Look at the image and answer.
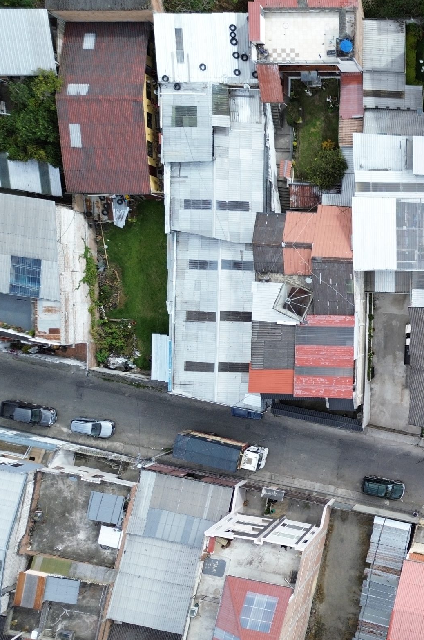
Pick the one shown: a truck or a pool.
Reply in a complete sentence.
It is a truck that can be seen here.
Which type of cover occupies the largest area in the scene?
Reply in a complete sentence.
The scene is dominated by buildings.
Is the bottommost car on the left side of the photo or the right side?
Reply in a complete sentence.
The bottommost car is on the right side of the image.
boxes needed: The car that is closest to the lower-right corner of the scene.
[362,475,406,501]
